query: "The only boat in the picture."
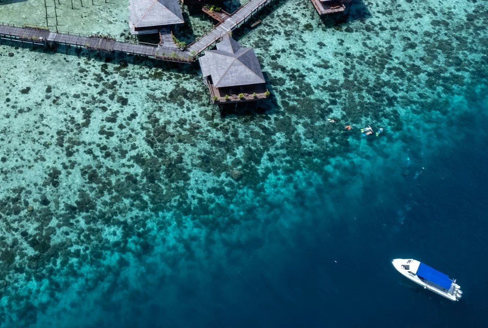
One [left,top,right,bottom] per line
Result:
[391,258,465,302]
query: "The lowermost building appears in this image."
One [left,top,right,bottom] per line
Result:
[197,28,270,118]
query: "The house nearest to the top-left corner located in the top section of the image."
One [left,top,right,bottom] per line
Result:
[125,0,183,40]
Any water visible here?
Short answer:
Yes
